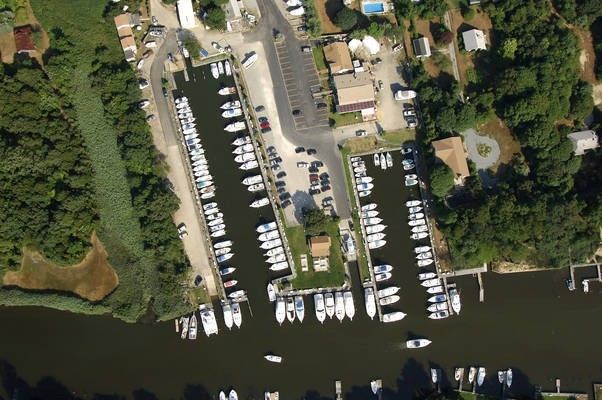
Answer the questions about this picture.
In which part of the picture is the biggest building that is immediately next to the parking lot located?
top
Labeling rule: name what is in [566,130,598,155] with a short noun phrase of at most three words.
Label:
house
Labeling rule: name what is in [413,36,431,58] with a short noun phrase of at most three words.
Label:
house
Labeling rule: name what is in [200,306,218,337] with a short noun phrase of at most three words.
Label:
boat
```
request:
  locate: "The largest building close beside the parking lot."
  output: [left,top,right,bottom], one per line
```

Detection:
[334,75,375,114]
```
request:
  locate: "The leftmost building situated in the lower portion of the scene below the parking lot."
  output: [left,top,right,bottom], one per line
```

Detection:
[310,235,329,256]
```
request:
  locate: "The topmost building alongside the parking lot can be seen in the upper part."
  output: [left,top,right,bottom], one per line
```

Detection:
[323,41,353,75]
